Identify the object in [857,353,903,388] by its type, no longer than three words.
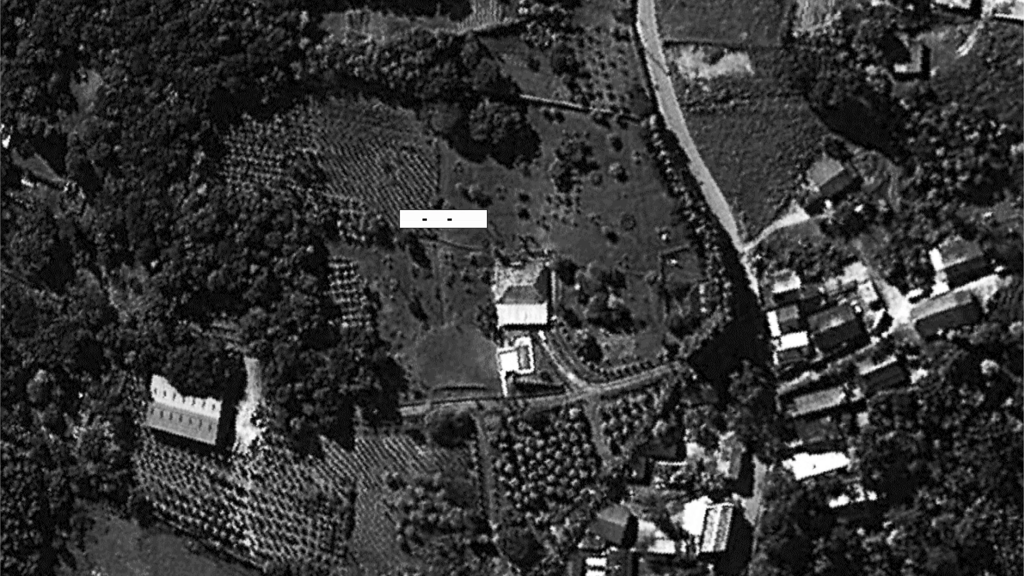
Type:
house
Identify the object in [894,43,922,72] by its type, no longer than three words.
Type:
building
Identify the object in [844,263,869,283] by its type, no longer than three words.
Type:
building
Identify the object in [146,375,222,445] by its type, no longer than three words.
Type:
barn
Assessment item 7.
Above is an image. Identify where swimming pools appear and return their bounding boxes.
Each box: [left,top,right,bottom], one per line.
[516,337,534,374]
